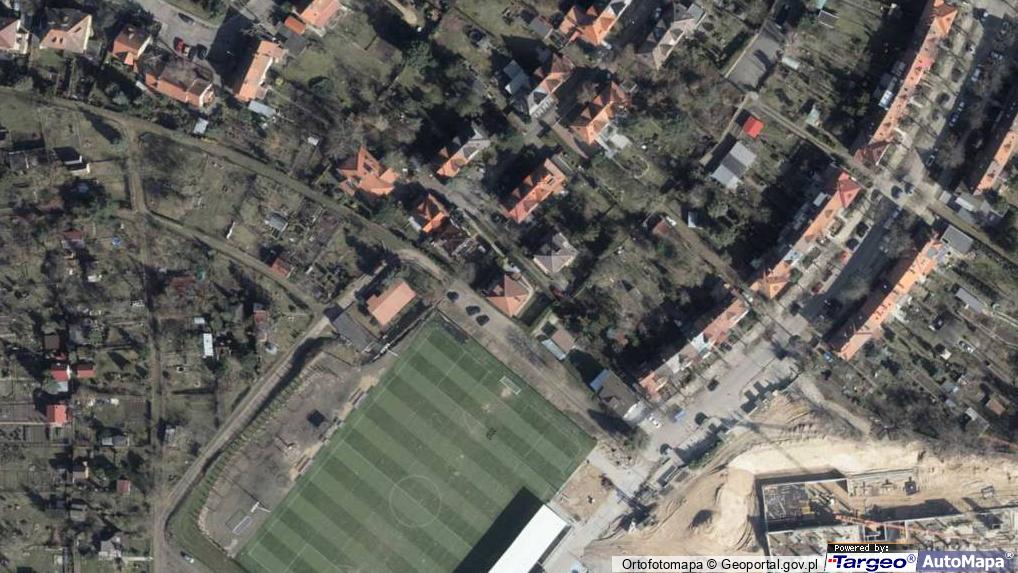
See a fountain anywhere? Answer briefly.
No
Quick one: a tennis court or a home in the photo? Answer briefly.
home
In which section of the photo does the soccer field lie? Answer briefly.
bottom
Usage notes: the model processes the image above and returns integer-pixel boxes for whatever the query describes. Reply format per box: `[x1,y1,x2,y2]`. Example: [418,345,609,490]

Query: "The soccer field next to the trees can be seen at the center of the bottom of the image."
[230,311,599,573]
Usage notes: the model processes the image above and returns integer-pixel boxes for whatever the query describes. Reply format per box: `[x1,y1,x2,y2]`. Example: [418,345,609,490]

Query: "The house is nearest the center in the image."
[490,276,531,316]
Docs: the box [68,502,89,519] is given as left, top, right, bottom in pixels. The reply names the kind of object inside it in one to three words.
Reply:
shed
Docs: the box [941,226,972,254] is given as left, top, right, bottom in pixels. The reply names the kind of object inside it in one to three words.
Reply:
building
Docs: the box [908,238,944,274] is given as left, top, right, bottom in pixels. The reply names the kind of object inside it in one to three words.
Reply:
house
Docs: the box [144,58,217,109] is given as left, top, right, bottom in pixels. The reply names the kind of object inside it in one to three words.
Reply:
house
